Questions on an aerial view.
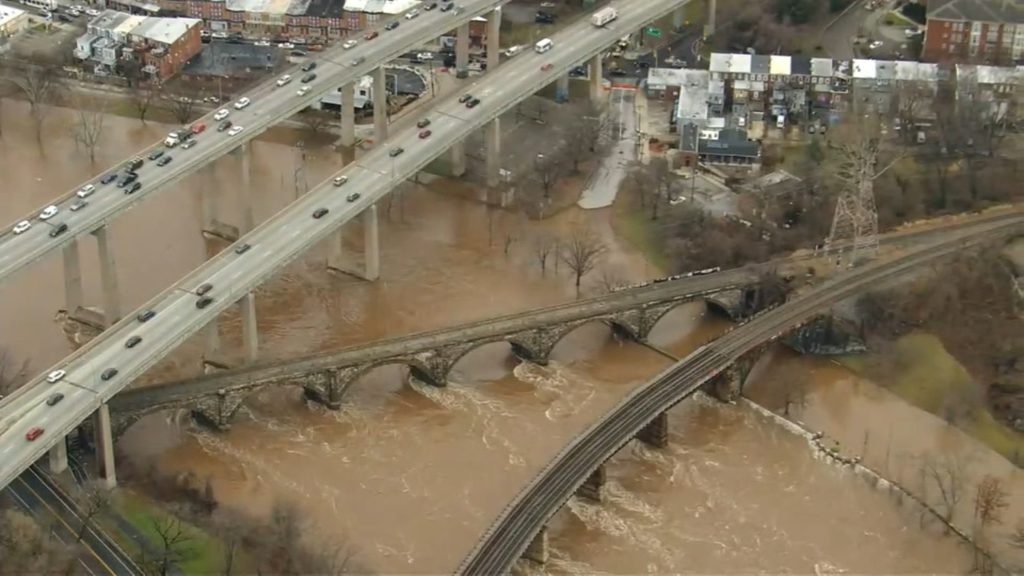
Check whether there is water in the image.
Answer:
Yes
